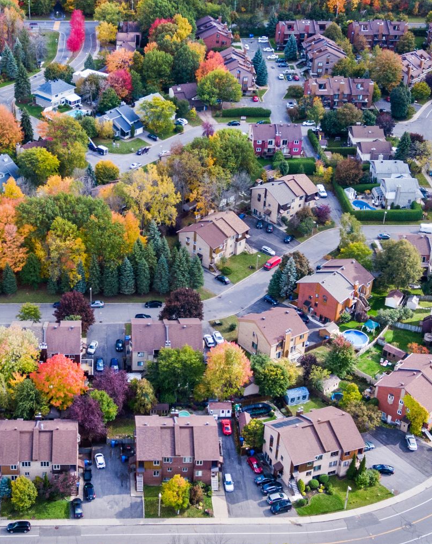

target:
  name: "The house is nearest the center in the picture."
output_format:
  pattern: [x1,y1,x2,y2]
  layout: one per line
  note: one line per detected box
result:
[182,210,256,270]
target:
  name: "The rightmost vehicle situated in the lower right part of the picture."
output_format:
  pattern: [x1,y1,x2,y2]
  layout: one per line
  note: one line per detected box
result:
[406,432,419,448]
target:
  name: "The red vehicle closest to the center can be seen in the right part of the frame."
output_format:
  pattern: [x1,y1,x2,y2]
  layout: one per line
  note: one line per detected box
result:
[264,252,282,266]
